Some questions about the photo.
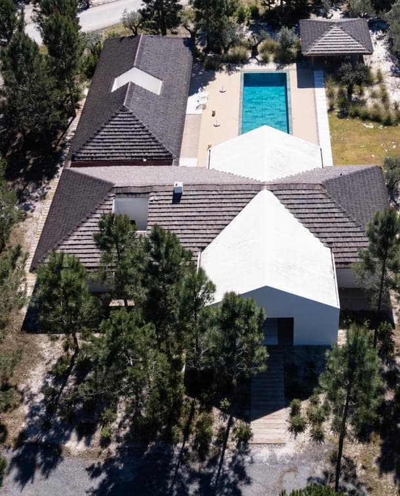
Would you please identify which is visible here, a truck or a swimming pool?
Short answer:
swimming pool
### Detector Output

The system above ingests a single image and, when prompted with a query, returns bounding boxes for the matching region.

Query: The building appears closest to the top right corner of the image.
[298,17,375,77]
